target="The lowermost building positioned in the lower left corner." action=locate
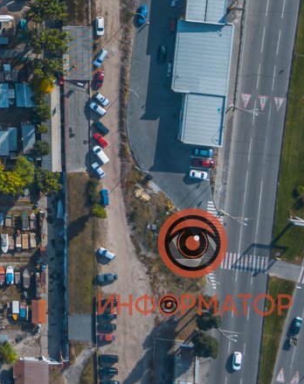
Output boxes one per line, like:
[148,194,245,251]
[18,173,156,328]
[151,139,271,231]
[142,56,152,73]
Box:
[9,353,49,384]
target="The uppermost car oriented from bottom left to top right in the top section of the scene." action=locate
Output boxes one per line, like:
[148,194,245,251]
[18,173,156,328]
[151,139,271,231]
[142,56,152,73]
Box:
[92,49,107,67]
